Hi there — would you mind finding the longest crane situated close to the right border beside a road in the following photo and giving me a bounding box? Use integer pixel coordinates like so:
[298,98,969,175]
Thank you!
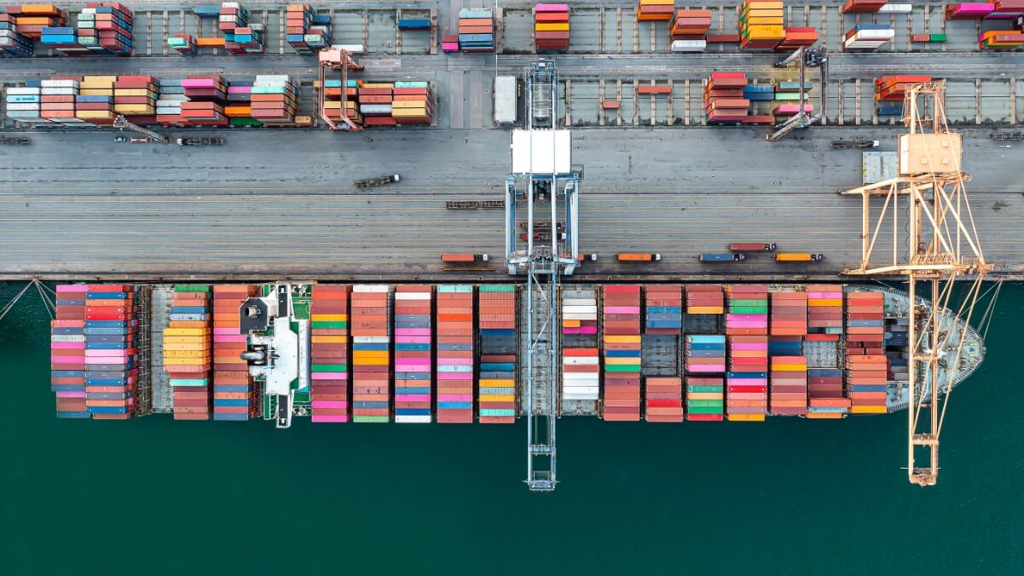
[828,83,992,483]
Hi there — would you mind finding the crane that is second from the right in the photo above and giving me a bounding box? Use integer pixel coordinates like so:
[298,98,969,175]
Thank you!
[770,46,829,129]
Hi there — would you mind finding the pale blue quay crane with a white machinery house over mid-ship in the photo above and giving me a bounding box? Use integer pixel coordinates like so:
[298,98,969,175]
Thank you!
[500,63,588,492]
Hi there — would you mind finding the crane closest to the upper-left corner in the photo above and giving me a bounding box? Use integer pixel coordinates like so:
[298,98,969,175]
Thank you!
[318,47,366,129]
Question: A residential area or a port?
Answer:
port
